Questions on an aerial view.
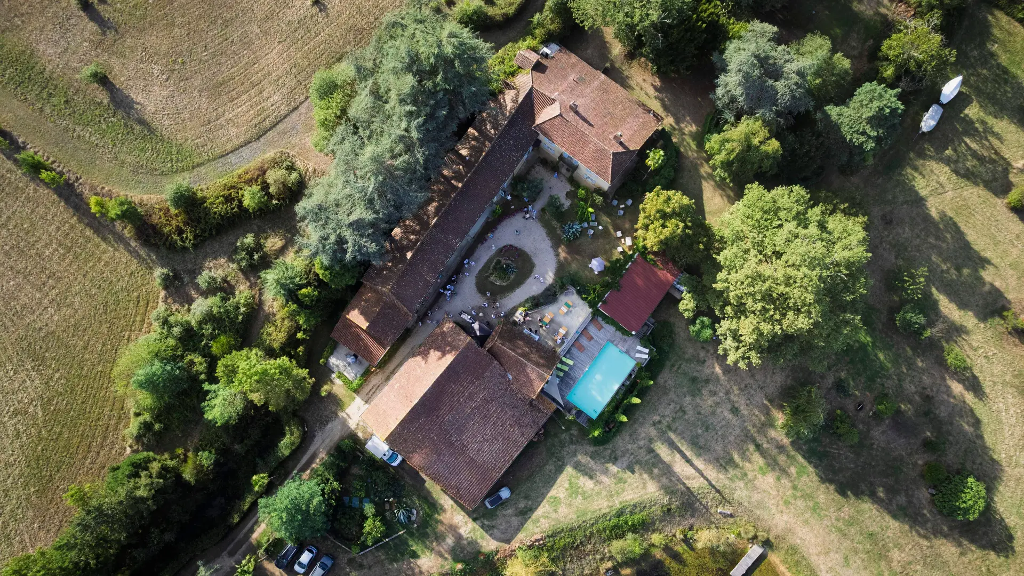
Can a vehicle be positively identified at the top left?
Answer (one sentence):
No, no vehicle can be made out at the top left.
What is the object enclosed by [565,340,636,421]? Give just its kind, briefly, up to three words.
swimming pool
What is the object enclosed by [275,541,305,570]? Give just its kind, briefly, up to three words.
car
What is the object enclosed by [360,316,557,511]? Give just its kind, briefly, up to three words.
barn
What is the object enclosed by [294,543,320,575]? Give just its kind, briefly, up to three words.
car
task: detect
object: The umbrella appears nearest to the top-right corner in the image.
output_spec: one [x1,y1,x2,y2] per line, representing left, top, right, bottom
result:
[590,257,606,271]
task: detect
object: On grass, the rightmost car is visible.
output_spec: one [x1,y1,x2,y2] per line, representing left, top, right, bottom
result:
[483,485,513,509]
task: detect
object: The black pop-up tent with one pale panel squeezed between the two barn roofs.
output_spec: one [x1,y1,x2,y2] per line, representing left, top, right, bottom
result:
[469,321,492,345]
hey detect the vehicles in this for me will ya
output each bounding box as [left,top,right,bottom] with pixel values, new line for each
[294,543,320,575]
[358,433,403,468]
[275,541,305,570]
[483,485,513,509]
[311,551,338,576]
